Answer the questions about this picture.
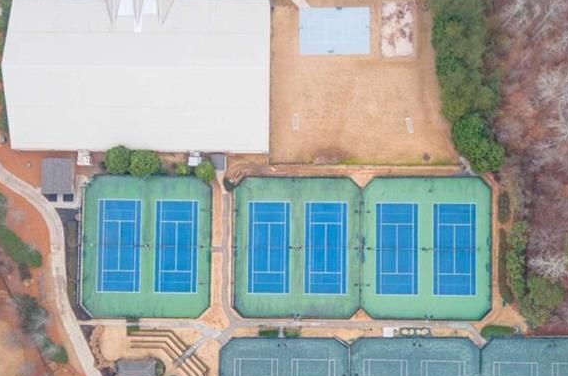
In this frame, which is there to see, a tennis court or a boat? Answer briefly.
tennis court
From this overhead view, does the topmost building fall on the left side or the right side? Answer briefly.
left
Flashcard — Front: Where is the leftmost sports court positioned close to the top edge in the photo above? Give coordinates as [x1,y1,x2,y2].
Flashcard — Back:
[299,7,370,55]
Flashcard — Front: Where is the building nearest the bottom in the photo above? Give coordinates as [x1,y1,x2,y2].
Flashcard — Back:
[117,357,159,376]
